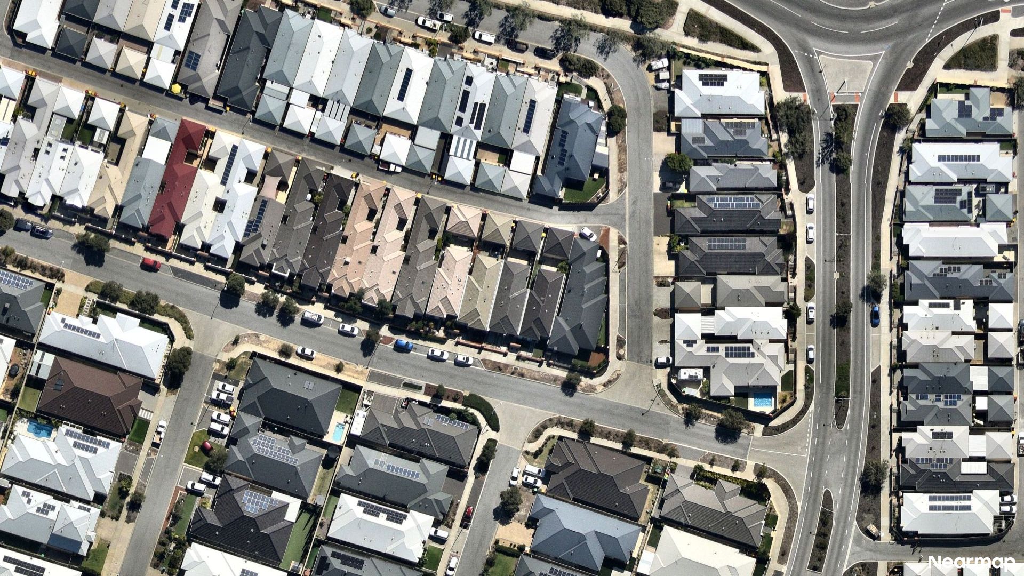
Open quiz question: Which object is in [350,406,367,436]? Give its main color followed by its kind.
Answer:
white camper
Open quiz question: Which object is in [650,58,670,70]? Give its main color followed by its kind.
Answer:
white vehicle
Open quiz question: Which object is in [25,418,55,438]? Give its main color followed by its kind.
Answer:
blue swimming pool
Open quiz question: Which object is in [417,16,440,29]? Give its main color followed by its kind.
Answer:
white vehicle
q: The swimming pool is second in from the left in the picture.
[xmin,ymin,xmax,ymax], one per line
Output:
[331,421,346,444]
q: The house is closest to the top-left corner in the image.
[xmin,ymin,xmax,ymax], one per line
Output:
[13,0,65,48]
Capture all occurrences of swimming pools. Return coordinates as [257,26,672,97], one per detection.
[25,418,55,438]
[752,392,774,407]
[331,421,346,444]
